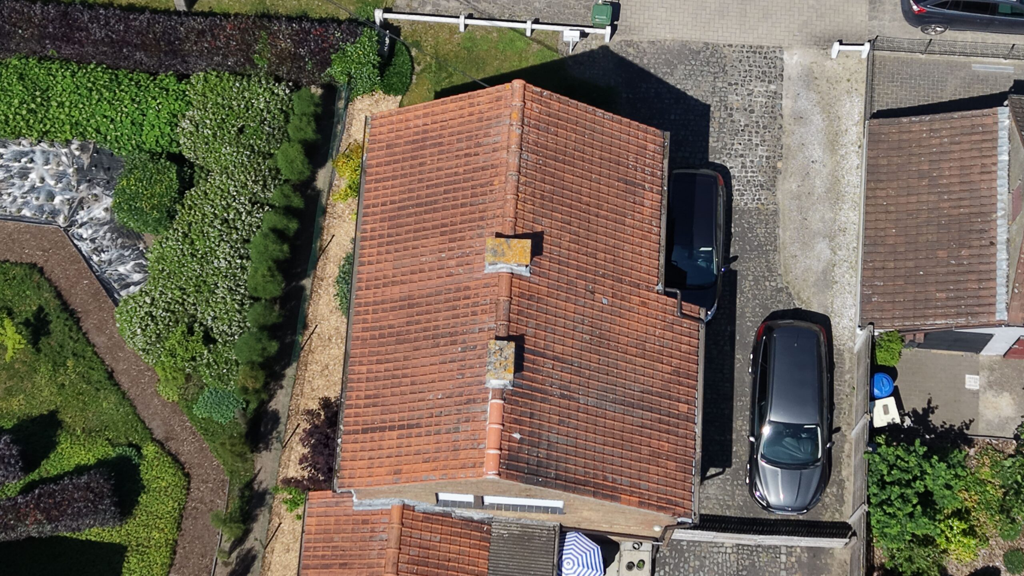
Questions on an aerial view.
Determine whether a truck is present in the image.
No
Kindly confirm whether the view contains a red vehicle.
No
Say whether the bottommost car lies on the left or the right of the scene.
right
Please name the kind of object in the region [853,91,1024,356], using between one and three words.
house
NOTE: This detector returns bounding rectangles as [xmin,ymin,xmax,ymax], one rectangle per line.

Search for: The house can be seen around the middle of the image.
[331,83,709,556]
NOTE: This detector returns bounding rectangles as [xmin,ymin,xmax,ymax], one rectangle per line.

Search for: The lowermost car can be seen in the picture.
[746,319,835,515]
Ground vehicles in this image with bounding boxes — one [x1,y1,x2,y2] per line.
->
[664,168,730,326]
[746,319,835,515]
[900,0,1024,35]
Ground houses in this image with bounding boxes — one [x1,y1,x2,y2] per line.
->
[853,91,1024,356]
[331,83,709,556]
